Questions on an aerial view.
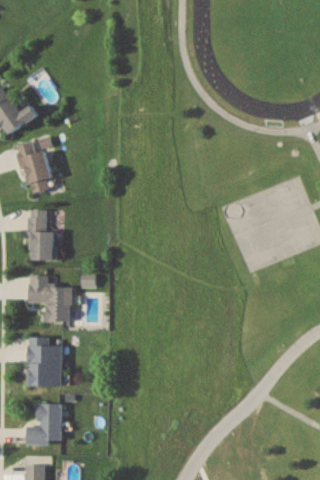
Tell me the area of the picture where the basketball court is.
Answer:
right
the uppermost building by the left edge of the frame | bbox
[0,92,40,136]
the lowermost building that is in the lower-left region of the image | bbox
[26,464,46,480]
